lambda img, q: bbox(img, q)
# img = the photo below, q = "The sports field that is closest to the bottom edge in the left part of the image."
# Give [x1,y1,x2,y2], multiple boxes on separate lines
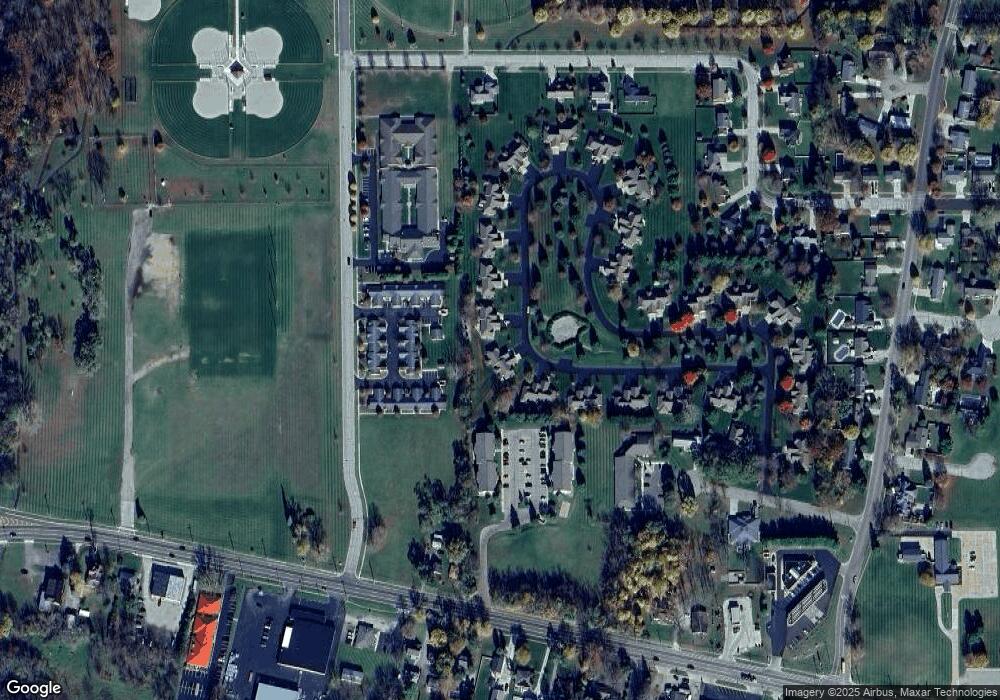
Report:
[189,228,276,377]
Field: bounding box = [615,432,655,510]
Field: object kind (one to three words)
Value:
building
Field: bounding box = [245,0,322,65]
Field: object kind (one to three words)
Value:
baseball field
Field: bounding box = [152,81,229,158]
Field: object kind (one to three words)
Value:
baseball field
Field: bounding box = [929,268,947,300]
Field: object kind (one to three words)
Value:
house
